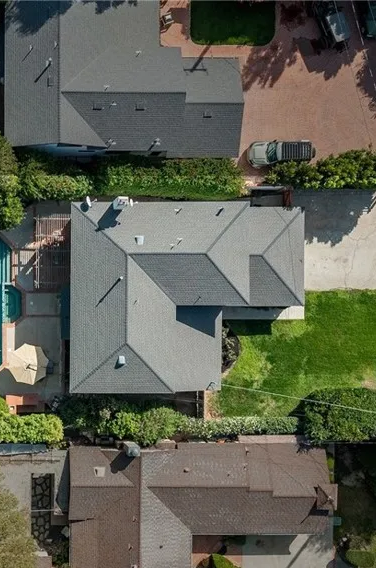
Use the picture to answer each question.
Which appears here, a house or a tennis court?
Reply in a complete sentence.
It is a house that can be seen here.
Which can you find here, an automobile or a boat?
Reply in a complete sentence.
Looking from above, you can make out an automobile.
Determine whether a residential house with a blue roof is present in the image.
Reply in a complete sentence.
No, the frame has no residential house with a blue roof in it.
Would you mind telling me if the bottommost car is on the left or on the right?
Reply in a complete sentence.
It is on the right.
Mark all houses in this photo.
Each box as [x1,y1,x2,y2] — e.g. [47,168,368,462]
[9,438,337,568]
[4,0,243,159]
[61,196,305,395]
